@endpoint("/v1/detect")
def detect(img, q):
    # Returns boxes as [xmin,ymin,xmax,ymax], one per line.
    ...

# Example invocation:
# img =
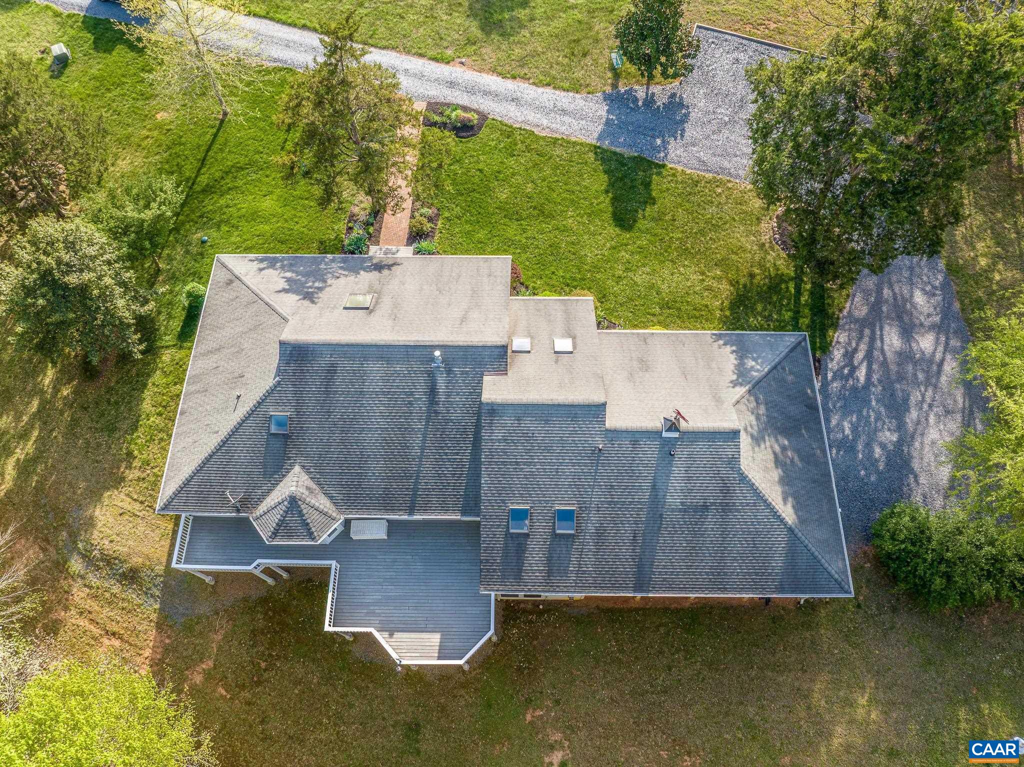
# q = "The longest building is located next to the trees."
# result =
[153,253,859,612]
